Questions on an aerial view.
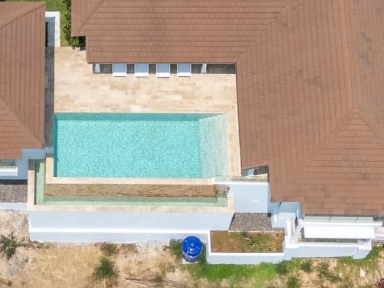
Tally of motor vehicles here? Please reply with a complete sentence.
The picture shows no motor vehicles.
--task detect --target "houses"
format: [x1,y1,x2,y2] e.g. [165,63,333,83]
[69,0,384,269]
[0,0,46,186]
